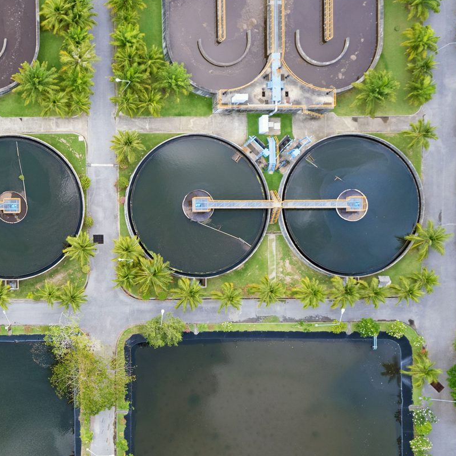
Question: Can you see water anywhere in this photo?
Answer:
Yes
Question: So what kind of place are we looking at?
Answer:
industrial area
